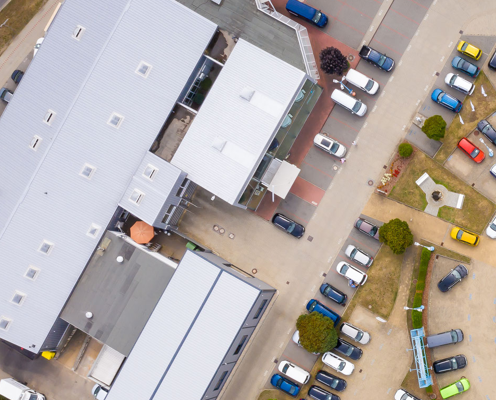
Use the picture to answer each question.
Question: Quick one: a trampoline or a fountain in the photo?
fountain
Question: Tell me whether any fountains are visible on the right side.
Yes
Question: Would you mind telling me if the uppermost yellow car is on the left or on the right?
right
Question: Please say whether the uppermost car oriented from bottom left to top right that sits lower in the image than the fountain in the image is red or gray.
gray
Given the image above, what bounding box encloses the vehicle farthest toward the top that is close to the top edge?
[282,0,330,26]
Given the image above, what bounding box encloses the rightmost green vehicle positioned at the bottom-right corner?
[440,379,471,400]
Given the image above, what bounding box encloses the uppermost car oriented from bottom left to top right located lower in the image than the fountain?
[437,263,469,294]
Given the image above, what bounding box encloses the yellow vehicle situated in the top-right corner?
[456,41,483,61]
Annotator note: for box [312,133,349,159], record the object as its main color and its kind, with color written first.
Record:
white car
